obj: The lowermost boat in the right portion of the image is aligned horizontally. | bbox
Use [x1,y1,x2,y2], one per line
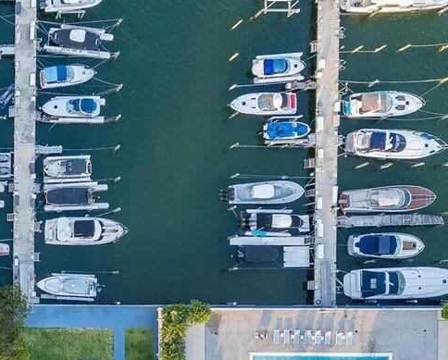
[337,267,448,301]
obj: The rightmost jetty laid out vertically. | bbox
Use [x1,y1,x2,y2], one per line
[311,0,337,304]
